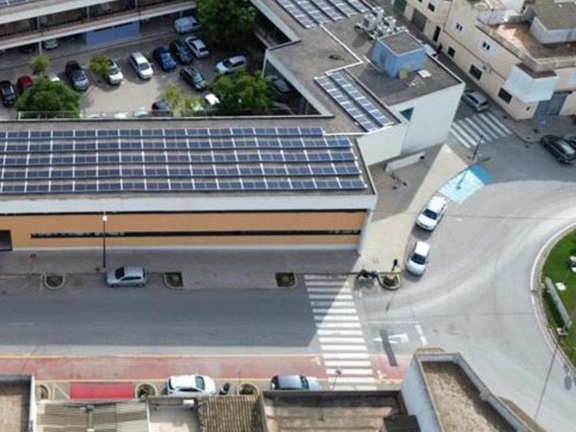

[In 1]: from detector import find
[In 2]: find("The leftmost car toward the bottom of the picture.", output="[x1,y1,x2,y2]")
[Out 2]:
[102,261,153,288]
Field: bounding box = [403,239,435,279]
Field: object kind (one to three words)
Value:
car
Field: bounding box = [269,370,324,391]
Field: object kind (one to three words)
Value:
car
